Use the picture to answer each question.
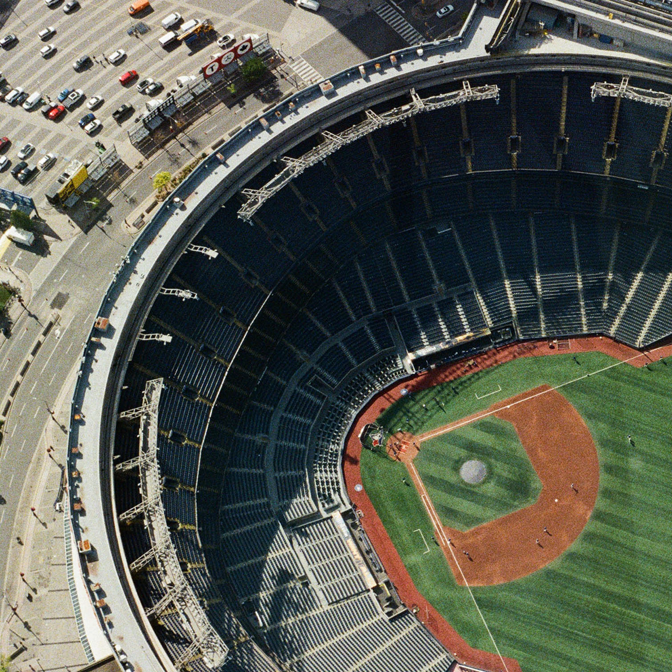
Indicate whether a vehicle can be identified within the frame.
Yes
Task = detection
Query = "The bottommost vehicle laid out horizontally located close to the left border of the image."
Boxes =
[4,226,37,244]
